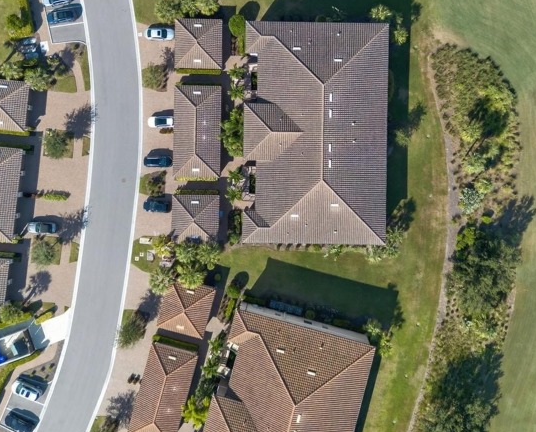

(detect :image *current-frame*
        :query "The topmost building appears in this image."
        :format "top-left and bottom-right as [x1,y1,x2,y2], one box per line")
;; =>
[174,18,223,69]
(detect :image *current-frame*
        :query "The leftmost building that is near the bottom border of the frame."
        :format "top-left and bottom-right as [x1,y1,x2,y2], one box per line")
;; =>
[130,341,199,432]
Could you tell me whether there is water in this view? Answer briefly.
No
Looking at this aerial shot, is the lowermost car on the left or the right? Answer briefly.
left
